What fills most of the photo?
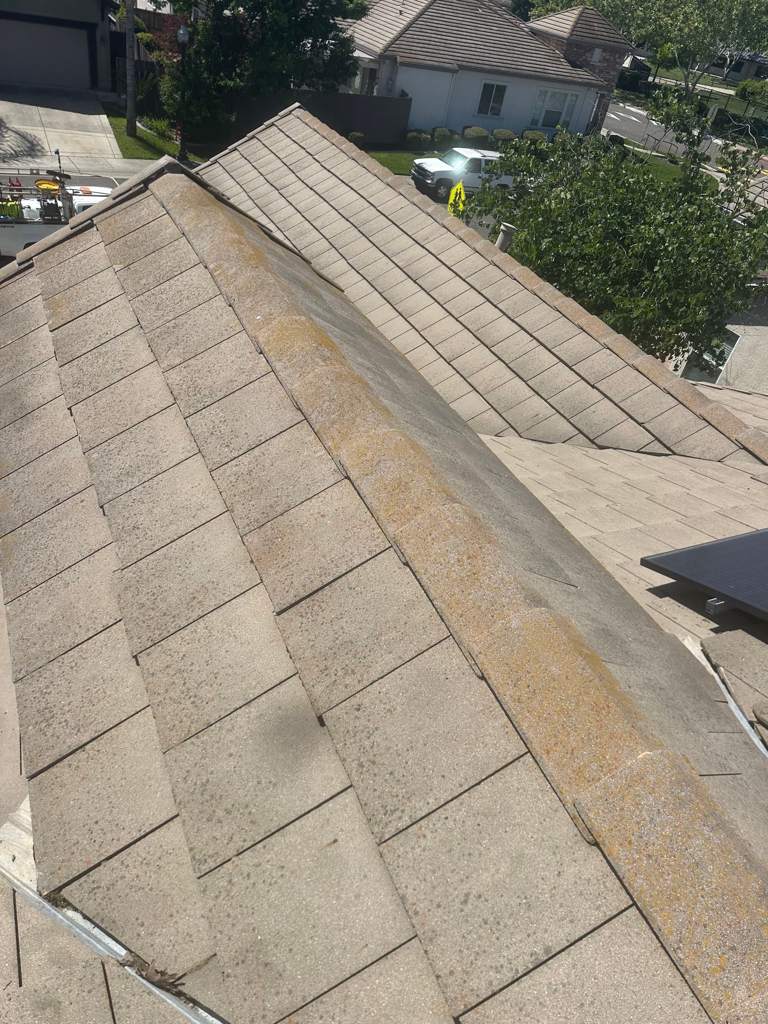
buildings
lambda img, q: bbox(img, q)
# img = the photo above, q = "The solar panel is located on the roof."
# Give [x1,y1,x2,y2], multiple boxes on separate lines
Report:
[632,526,768,623]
